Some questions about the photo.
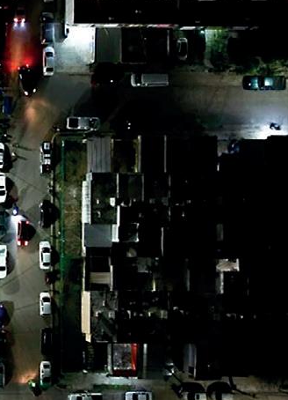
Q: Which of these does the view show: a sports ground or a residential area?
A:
residential area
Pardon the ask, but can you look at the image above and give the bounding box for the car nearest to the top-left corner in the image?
[12,0,27,25]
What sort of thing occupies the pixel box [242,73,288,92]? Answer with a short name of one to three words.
vehicle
